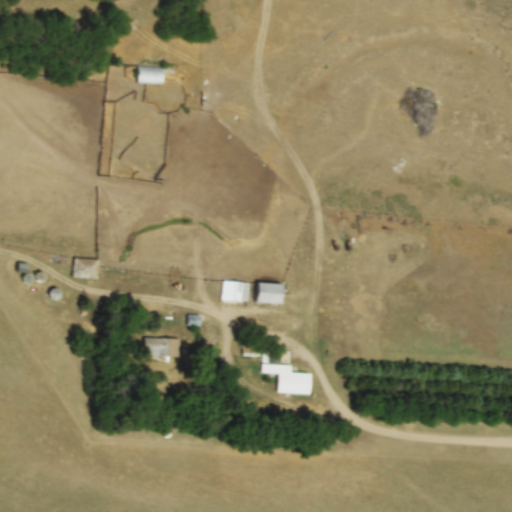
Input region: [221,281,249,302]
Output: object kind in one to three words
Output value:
barn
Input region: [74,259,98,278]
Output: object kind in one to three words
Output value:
barn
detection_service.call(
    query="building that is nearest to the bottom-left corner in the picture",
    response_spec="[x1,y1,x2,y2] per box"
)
[145,338,180,365]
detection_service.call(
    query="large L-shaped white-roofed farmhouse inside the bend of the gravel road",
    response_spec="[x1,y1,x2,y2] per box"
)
[242,348,311,396]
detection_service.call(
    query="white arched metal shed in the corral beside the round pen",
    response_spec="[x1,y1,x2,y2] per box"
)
[138,66,164,84]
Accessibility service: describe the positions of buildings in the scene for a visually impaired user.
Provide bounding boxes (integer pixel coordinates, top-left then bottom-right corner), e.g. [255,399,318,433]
[187,314,204,327]
[256,284,286,304]
[242,348,311,396]
[145,338,180,365]
[138,66,164,84]
[74,259,98,278]
[221,281,249,302]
